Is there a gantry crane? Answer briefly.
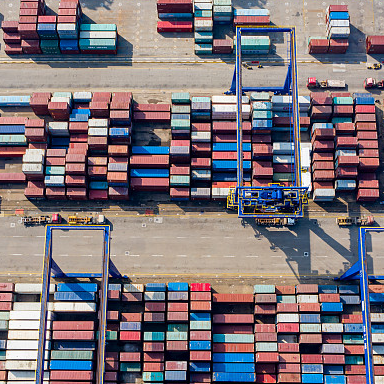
Yes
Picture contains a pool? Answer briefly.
No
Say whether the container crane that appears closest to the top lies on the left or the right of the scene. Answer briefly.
right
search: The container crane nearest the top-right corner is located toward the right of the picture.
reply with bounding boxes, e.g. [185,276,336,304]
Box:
[224,22,316,226]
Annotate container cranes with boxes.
[32,221,127,384]
[224,22,316,226]
[334,222,384,384]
